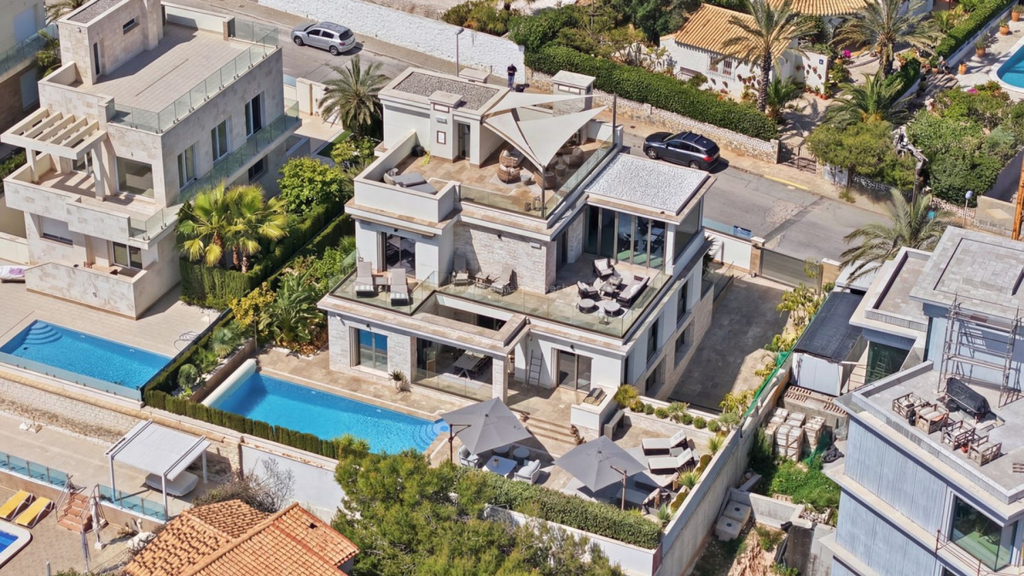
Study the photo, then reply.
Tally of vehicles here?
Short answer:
2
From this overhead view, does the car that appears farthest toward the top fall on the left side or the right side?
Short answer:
left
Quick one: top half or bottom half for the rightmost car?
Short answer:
top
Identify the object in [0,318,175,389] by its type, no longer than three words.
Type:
swimming pool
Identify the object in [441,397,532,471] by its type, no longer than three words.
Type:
umbrella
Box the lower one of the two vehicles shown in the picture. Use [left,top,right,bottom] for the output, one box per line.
[639,124,722,171]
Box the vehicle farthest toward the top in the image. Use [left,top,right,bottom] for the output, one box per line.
[288,16,360,55]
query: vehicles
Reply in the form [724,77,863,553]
[639,124,722,171]
[288,16,360,55]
